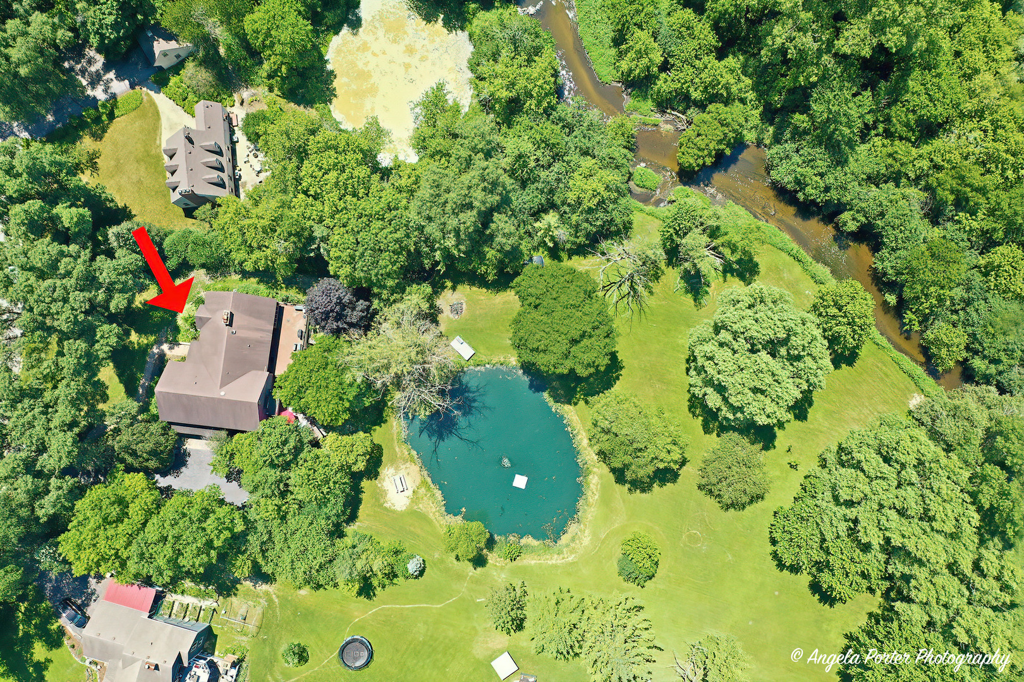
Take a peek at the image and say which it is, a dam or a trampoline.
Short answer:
trampoline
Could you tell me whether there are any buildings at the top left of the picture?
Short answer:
Yes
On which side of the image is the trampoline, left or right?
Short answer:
left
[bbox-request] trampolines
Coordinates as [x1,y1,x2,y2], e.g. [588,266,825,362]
[337,633,374,674]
